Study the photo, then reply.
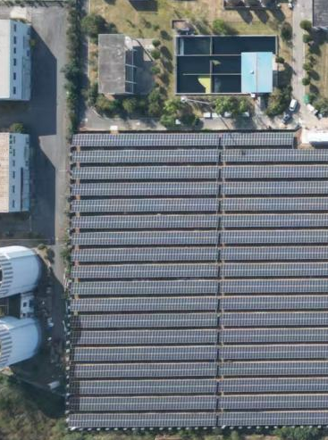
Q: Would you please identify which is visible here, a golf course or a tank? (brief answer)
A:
tank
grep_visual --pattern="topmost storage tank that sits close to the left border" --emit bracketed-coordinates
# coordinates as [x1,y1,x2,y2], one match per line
[0,245,42,301]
